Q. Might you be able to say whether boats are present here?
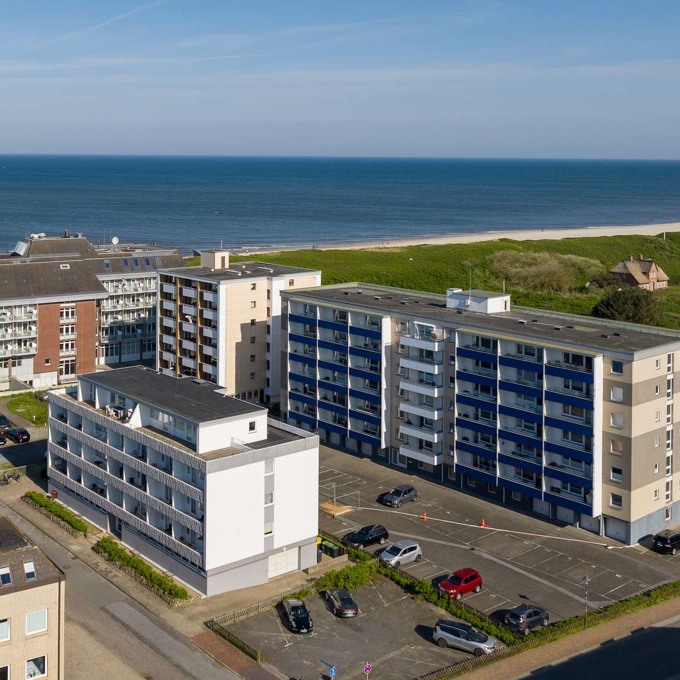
No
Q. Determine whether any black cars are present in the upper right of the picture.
No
